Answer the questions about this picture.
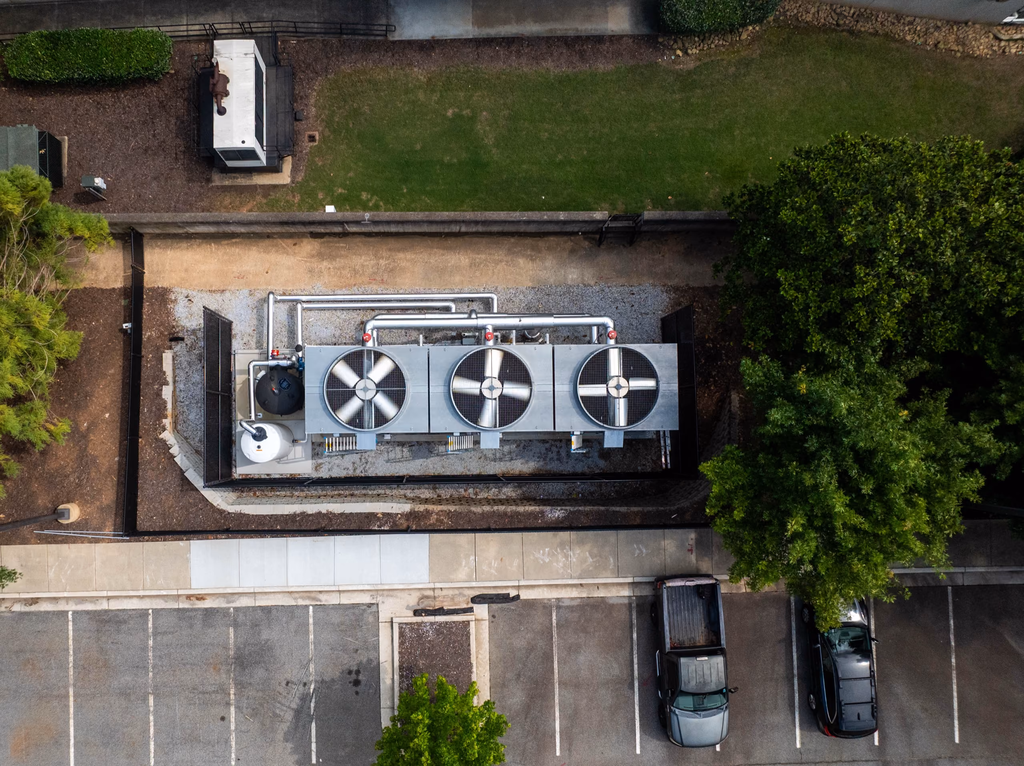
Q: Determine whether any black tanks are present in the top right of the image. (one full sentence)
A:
No, I can find no black tank in the top right of the image.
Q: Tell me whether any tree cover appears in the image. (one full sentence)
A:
Yes, tree cover shows up in the scene.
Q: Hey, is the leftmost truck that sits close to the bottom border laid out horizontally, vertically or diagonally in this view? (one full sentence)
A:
The leftmost truck that sits close to the bottom border is laid out vertically.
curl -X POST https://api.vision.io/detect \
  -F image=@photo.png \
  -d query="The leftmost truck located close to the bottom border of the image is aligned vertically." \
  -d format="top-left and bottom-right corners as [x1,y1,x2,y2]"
[648,567,738,747]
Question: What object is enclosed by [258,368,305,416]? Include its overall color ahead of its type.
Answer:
black storage tank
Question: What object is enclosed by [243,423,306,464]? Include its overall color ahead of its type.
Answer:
white storage tank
